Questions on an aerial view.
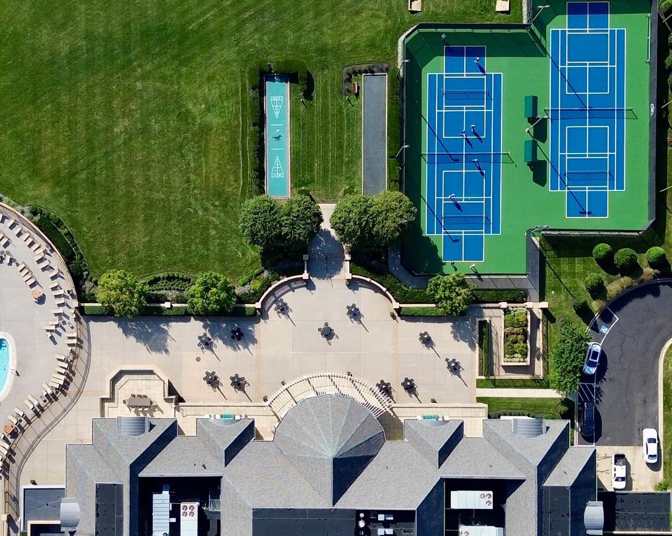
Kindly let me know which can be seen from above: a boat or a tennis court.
tennis court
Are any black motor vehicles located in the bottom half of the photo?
Yes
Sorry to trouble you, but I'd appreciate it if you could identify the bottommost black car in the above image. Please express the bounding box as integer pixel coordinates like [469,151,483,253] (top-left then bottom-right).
[578,401,595,436]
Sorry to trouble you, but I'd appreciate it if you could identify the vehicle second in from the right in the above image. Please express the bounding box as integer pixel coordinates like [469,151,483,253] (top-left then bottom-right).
[611,453,627,490]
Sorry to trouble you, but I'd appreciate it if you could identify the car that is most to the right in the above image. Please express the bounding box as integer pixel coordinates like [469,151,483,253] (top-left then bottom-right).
[642,429,659,464]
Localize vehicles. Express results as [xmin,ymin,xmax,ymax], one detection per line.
[611,453,627,490]
[578,401,595,436]
[582,342,602,376]
[642,429,659,464]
